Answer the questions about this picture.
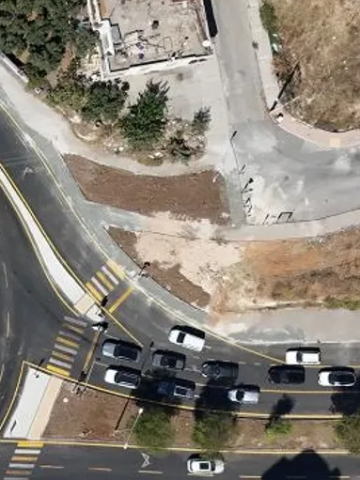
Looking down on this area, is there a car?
Yes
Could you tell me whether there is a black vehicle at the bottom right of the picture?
Yes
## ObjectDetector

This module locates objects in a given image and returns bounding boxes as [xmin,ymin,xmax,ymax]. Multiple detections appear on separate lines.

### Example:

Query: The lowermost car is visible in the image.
[185,457,224,475]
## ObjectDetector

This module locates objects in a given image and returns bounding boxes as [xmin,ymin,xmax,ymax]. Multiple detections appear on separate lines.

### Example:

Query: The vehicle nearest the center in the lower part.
[168,329,206,351]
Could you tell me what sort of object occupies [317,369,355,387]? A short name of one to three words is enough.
car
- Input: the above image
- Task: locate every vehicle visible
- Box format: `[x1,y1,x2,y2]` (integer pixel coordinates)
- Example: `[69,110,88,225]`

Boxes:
[185,457,224,475]
[283,347,321,366]
[103,367,143,390]
[317,369,355,387]
[201,361,239,380]
[102,342,141,361]
[157,379,197,399]
[149,351,188,370]
[168,329,206,351]
[225,385,263,403]
[266,366,305,385]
